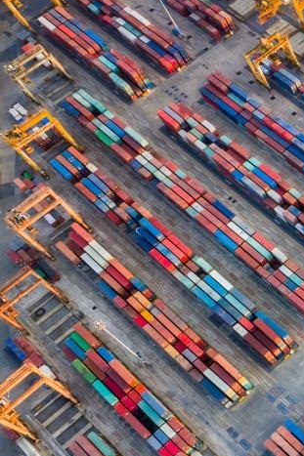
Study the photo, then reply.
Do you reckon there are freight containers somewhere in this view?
Yes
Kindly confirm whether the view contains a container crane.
Yes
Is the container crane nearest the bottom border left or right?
left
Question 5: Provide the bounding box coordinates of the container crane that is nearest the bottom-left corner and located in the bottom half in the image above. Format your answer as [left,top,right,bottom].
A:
[0,370,83,446]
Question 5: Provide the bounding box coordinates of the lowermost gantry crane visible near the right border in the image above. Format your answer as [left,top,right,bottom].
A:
[241,26,301,89]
